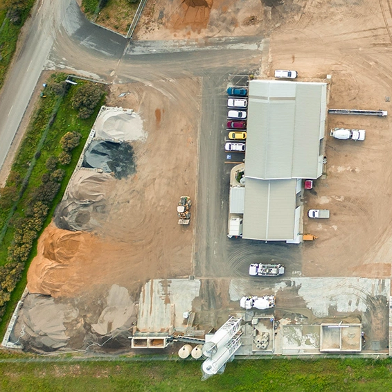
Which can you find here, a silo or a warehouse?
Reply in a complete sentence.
Visible in the photo is a silo.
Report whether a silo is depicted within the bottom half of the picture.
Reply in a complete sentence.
Yes, the scene does show a silo within the bottom half of the picture.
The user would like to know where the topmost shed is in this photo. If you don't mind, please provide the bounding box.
[244,79,326,180]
